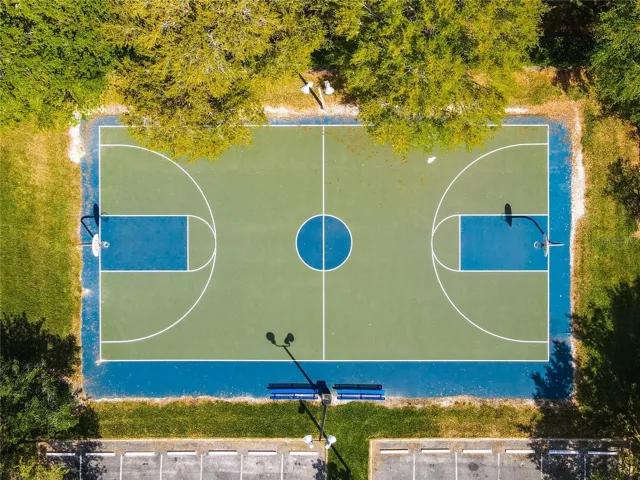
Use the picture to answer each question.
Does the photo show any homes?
No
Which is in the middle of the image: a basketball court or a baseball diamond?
basketball court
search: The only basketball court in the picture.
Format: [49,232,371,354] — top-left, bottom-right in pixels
[81,114,574,400]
